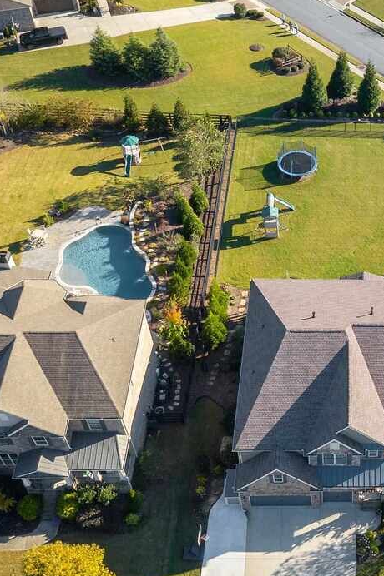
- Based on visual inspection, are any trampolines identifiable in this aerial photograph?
Yes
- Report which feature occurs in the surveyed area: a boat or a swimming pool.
swimming pool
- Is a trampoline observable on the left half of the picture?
No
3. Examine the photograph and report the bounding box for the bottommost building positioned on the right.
[222,269,384,509]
